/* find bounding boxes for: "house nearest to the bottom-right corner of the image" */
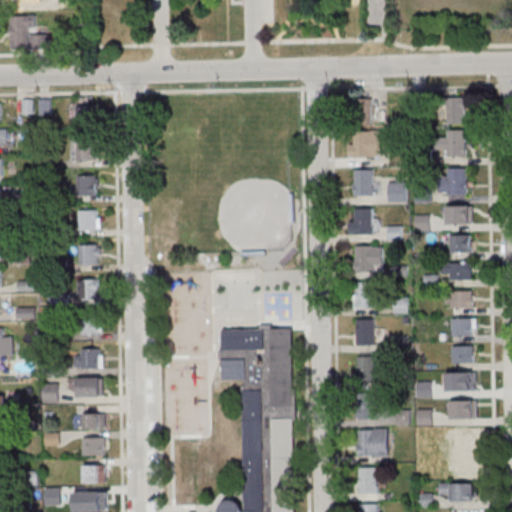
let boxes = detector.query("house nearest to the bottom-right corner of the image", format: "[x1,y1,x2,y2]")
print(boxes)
[439,484,473,502]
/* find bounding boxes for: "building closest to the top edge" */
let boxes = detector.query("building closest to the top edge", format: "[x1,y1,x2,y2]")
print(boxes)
[8,14,46,48]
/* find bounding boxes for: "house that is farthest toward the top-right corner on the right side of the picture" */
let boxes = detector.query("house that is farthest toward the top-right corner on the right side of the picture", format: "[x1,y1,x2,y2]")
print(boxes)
[437,97,465,126]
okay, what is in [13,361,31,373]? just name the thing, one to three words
swimming pool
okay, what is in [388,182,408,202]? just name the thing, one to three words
building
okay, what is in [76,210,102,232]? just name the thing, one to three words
house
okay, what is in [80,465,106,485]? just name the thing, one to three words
house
